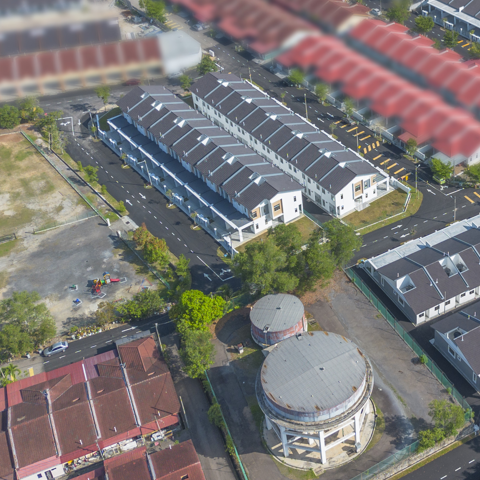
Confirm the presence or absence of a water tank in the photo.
Yes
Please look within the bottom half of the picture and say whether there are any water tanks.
Yes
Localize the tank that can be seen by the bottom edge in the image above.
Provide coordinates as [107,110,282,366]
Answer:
[256,334,379,471]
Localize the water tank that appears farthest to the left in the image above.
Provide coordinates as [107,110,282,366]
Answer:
[248,291,309,352]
